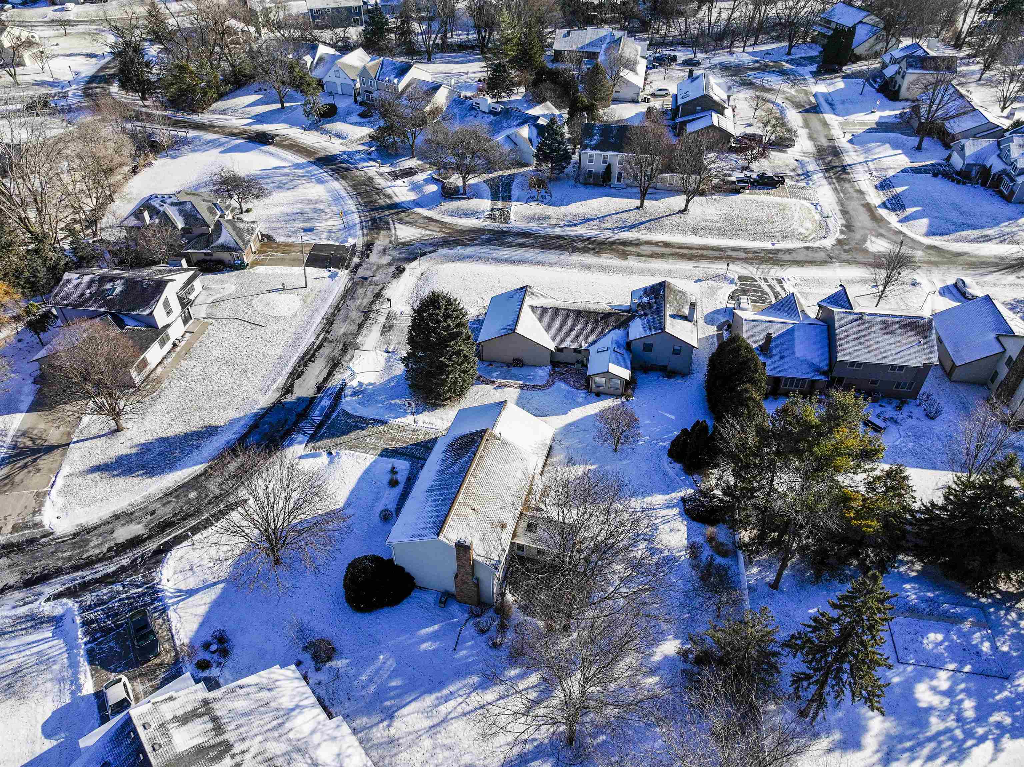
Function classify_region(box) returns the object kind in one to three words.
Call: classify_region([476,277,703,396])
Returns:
house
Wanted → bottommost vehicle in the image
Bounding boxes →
[96,663,133,715]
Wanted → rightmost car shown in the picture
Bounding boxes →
[954,274,983,299]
